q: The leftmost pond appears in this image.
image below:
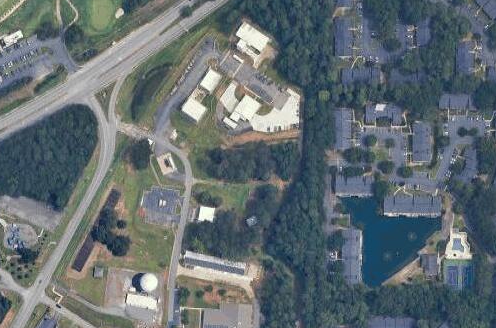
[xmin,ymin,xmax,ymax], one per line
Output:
[337,195,443,287]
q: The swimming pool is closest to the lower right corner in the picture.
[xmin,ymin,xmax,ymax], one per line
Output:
[445,229,472,259]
